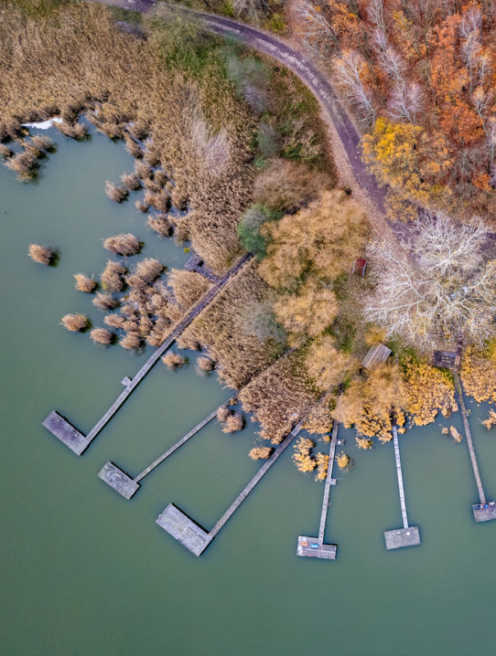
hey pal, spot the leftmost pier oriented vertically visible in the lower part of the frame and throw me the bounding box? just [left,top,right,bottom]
[297,406,346,560]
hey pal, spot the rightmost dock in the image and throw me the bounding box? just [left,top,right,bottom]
[453,370,496,522]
